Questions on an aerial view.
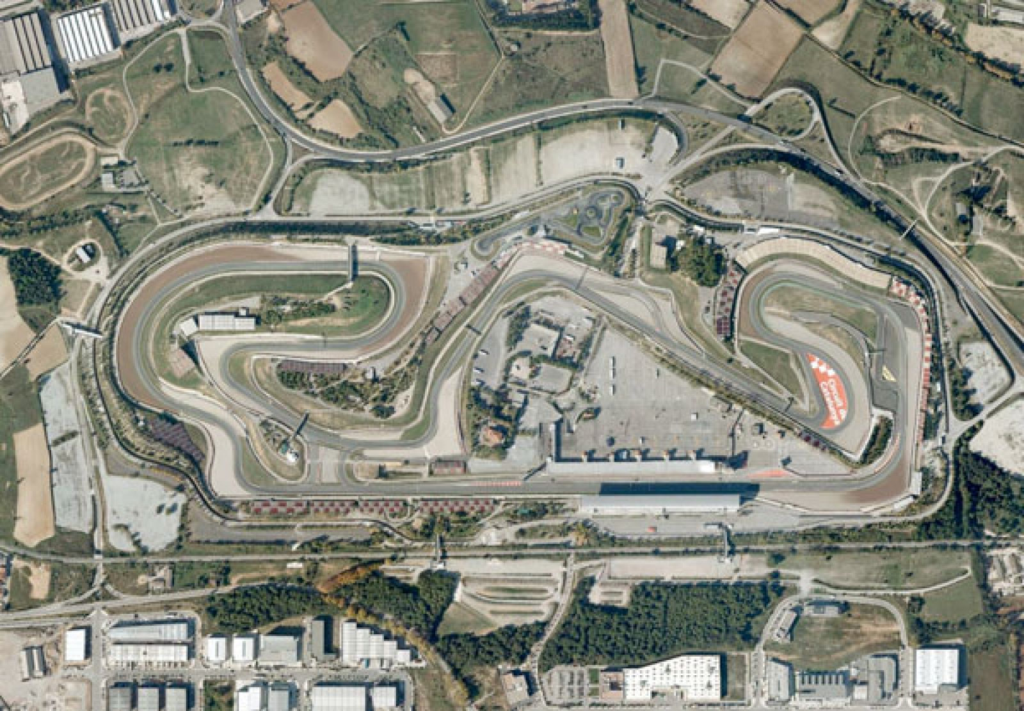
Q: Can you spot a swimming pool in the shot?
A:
No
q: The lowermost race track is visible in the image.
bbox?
[131,260,906,494]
